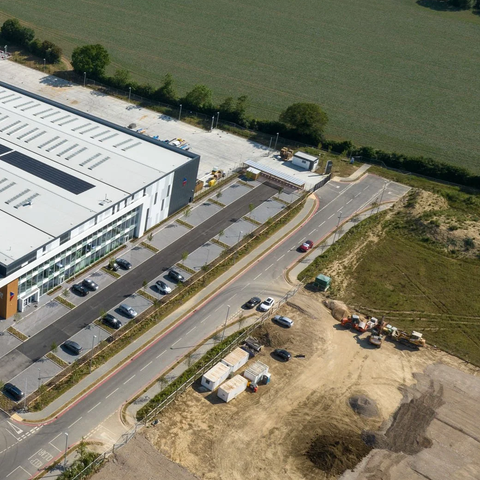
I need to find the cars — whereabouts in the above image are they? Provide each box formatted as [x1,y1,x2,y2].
[63,338,85,354]
[114,257,134,269]
[118,302,139,318]
[103,313,123,329]
[259,296,276,310]
[273,311,296,327]
[154,278,174,293]
[270,346,295,362]
[2,381,25,400]
[81,277,100,291]
[245,295,264,308]
[167,268,187,283]
[71,284,89,295]
[109,260,121,270]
